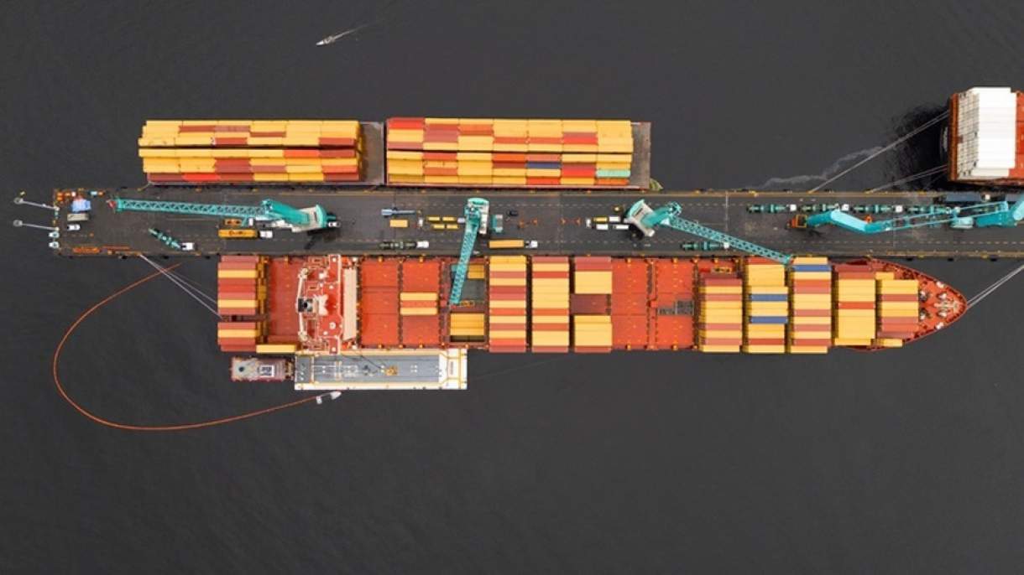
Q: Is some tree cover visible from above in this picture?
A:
No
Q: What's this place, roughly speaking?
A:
port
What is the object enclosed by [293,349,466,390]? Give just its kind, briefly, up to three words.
ship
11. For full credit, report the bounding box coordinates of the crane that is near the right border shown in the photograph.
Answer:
[792,200,1024,239]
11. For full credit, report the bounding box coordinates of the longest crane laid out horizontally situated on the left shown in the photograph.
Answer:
[111,201,340,239]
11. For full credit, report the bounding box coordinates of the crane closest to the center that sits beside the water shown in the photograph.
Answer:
[450,195,503,311]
